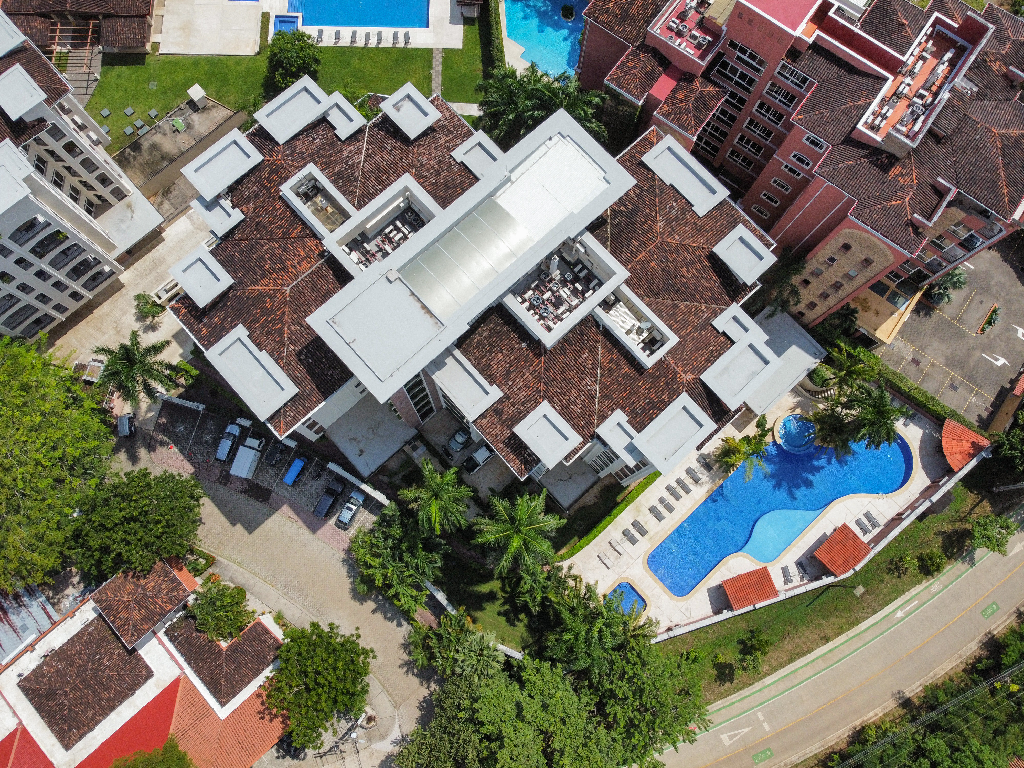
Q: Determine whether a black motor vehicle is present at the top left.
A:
No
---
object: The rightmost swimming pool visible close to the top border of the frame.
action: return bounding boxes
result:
[505,0,588,79]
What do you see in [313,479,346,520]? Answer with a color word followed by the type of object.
black car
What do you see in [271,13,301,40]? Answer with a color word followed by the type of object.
blue swimming pool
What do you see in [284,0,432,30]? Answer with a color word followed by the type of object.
blue swimming pool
